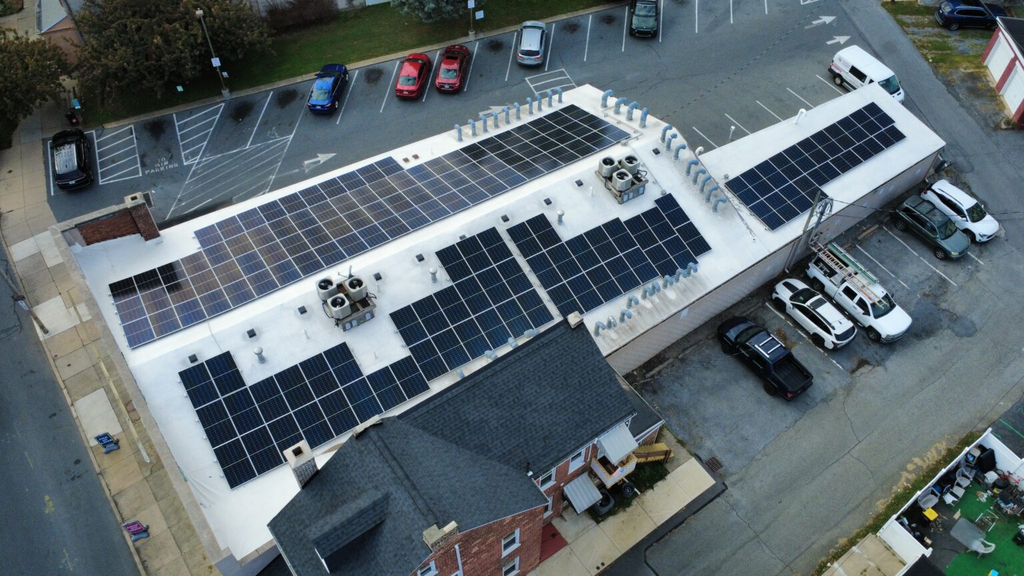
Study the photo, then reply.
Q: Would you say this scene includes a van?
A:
Yes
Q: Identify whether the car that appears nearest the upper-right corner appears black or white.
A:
black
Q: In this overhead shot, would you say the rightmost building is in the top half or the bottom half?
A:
top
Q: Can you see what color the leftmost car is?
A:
black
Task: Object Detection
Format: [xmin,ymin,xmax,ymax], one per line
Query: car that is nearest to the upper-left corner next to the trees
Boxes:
[42,129,90,189]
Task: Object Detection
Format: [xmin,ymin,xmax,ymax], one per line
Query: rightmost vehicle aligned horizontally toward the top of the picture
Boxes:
[932,0,1010,30]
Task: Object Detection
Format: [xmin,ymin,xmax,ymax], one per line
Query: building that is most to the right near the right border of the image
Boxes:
[975,22,1024,121]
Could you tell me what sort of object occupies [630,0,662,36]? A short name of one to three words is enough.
car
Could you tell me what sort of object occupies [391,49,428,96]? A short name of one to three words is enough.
car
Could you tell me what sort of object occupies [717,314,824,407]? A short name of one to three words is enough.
truck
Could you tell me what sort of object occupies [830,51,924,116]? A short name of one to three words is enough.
van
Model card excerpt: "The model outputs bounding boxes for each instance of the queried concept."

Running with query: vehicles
[717,314,824,407]
[889,195,980,265]
[773,278,864,354]
[630,0,662,36]
[932,0,1010,30]
[923,177,1014,245]
[434,43,470,91]
[303,64,350,115]
[391,49,428,96]
[804,241,922,347]
[830,51,924,116]
[517,18,549,63]
[42,129,90,189]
